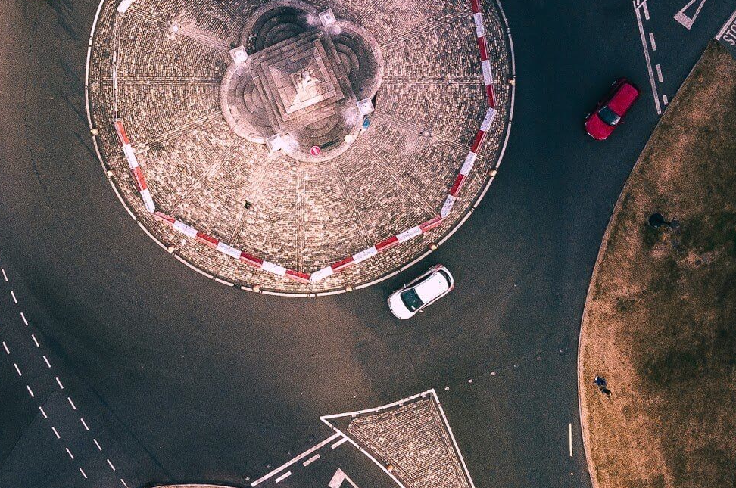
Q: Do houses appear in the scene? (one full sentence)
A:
No, the scene contains no house.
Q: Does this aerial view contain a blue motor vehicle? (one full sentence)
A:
No, I find no blue motor vehicle anywhere in the image.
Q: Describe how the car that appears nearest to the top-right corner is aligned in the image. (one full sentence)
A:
The car that appears nearest to the top-right corner is oriented at an angle.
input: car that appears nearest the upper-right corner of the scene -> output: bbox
[587,78,640,141]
